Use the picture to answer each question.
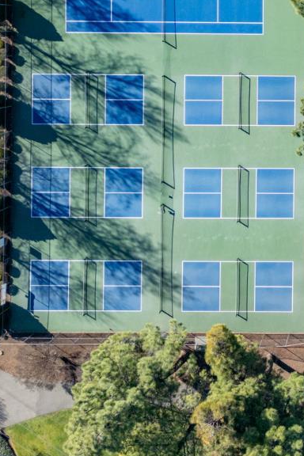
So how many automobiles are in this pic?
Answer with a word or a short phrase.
0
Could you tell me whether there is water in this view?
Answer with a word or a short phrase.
No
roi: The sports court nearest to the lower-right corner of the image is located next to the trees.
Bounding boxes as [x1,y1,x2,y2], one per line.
[182,261,294,312]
